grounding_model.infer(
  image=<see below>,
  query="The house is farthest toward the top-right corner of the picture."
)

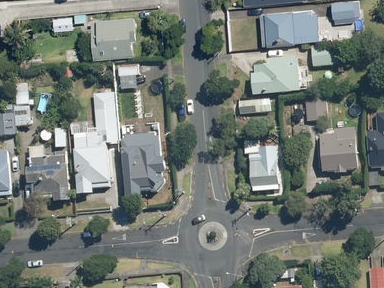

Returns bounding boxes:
[332,0,362,25]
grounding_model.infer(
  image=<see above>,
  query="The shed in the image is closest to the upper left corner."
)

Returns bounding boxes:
[52,17,74,33]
